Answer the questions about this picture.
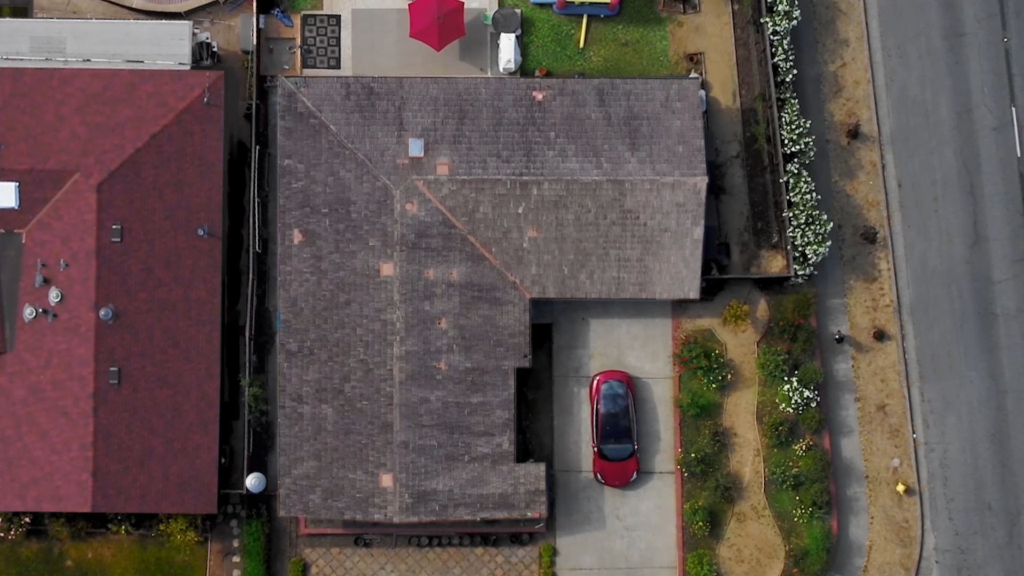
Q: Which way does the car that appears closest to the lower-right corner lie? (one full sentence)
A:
The car that appears closest to the lower-right corner runs vertically in the image.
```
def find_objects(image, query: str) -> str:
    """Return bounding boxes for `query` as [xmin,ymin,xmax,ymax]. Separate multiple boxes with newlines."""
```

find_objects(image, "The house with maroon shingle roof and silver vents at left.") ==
[0,68,226,513]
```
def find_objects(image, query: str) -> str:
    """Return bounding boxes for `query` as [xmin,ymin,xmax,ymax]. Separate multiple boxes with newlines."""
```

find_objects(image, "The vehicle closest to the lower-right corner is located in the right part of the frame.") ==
[590,370,643,488]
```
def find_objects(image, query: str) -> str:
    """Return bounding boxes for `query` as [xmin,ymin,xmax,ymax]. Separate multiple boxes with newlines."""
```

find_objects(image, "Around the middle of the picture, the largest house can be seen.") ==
[276,75,708,523]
